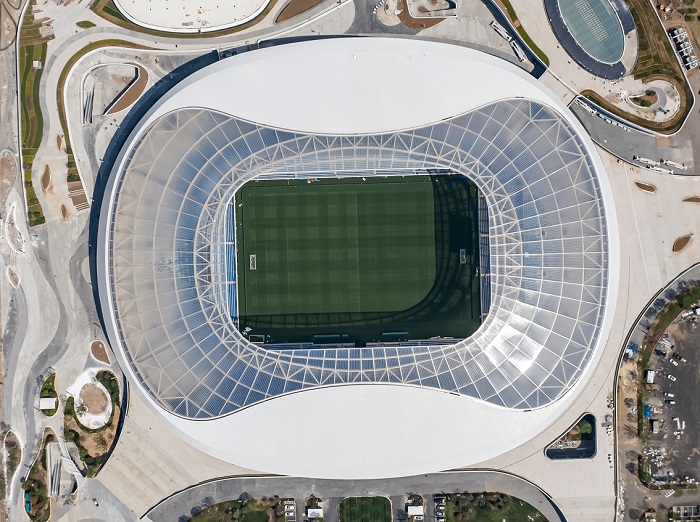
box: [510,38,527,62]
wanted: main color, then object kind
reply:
white vehicle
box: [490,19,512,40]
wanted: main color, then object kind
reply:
white bus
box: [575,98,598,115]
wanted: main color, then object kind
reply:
white vehicle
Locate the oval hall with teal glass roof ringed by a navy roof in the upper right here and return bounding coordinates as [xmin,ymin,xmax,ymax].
[541,0,638,82]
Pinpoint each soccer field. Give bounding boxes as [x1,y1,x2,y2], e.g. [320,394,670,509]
[234,177,480,348]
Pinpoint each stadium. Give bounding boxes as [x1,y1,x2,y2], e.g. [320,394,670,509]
[98,40,619,478]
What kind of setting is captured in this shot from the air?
sports ground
